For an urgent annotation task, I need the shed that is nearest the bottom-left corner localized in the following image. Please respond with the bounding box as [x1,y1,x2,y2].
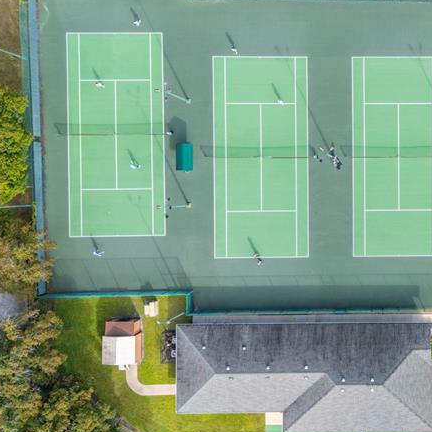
[102,320,144,370]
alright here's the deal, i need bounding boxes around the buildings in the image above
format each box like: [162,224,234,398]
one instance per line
[176,310,432,432]
[102,320,144,370]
